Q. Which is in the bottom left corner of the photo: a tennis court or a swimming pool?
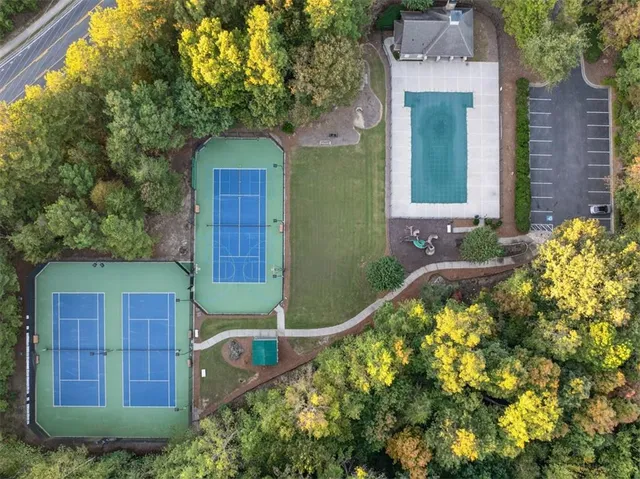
tennis court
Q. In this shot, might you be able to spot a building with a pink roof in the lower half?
No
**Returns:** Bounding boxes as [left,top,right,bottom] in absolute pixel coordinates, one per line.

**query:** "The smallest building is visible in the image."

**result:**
[251,335,279,365]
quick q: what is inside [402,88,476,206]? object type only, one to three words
swimming pool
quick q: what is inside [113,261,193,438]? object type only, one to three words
tennis court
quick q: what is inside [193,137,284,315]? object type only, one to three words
tennis court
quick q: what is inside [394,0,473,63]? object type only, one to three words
building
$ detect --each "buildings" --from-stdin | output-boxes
[251,335,279,365]
[394,0,473,63]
